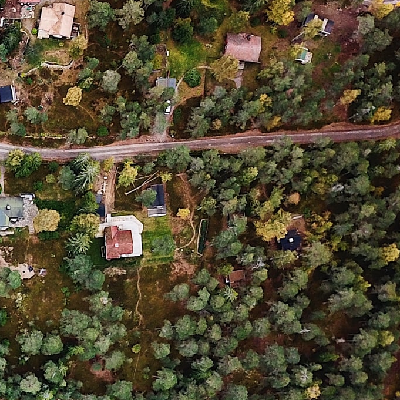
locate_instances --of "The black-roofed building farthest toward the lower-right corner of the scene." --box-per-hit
[279,230,301,249]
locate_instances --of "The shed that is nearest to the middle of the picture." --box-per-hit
[147,184,165,216]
